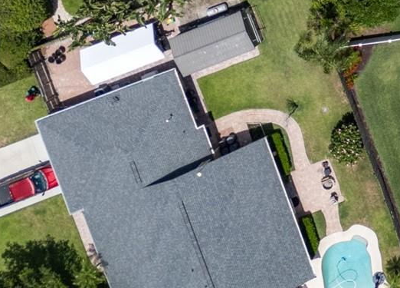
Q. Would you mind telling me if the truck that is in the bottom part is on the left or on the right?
left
